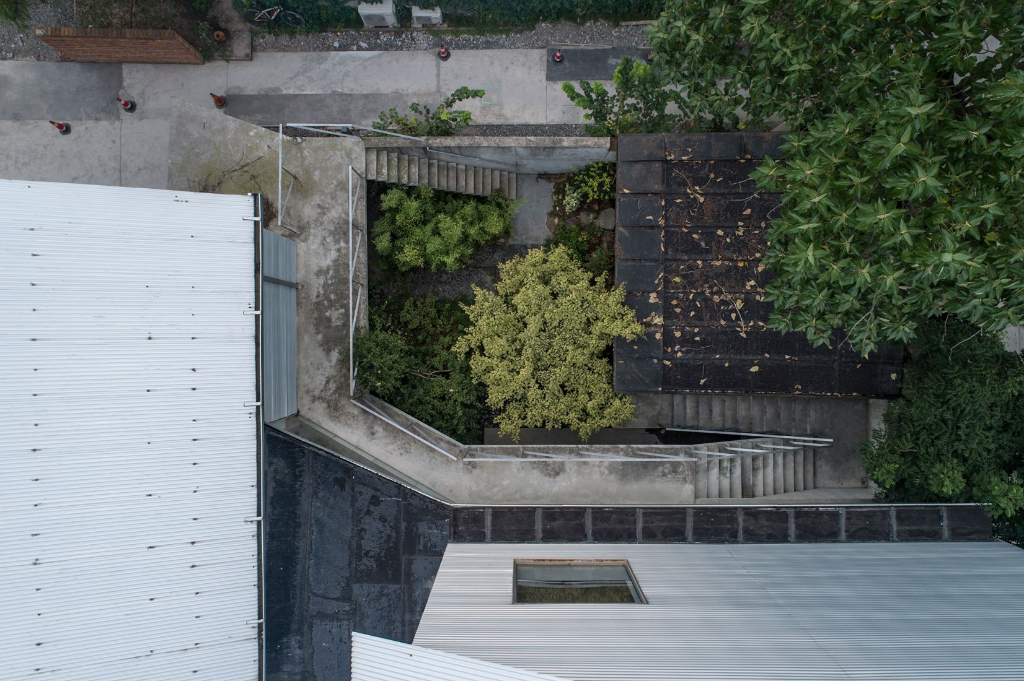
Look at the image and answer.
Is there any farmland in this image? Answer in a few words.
No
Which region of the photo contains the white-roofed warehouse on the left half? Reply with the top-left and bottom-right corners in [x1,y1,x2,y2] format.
[0,180,299,681]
